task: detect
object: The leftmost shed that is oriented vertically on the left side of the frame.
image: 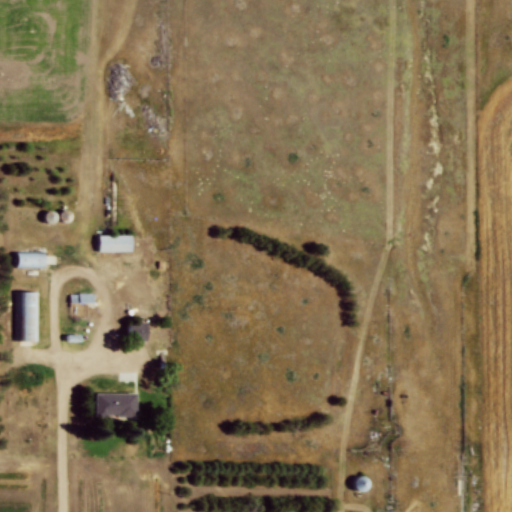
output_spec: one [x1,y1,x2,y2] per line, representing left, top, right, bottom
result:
[21,291,39,342]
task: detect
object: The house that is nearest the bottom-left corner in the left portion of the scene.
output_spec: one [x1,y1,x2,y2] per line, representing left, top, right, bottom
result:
[96,394,139,420]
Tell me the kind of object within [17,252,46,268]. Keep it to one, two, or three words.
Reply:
shed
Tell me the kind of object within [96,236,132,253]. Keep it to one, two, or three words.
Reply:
shed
